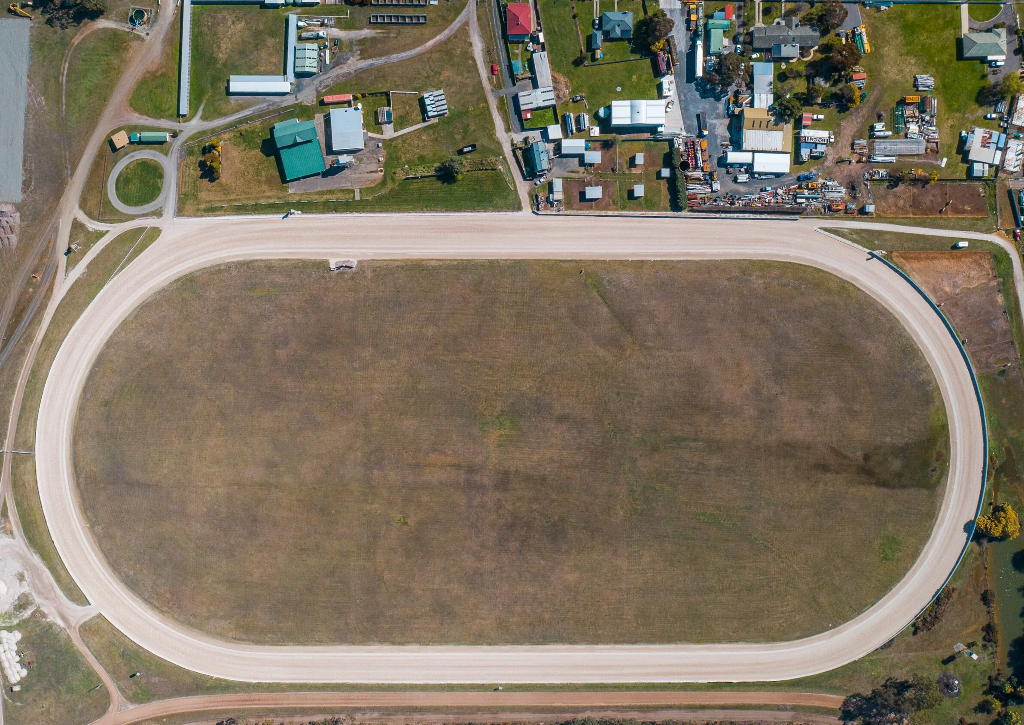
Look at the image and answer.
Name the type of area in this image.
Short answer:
sports ground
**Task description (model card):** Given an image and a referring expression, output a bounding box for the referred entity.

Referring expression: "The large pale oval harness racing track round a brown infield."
[35,216,988,683]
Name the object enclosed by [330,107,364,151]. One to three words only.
building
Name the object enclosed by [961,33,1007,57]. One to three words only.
house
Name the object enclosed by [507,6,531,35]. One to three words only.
house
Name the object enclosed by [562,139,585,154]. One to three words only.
shed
